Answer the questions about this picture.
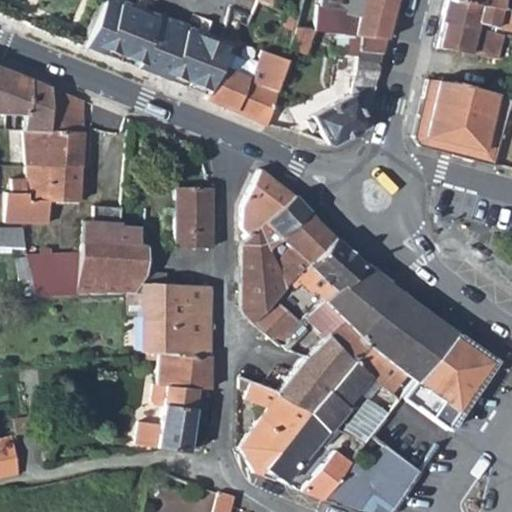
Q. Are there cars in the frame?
Yes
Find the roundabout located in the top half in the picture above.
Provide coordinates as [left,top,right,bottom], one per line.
[358,178,394,216]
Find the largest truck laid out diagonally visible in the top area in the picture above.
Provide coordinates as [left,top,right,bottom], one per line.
[368,168,401,196]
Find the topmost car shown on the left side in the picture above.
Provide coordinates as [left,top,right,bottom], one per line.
[46,63,66,77]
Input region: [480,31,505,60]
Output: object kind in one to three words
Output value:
house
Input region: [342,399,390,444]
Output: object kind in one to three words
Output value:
building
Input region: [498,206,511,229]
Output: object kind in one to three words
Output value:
vehicle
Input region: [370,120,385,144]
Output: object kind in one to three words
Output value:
car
